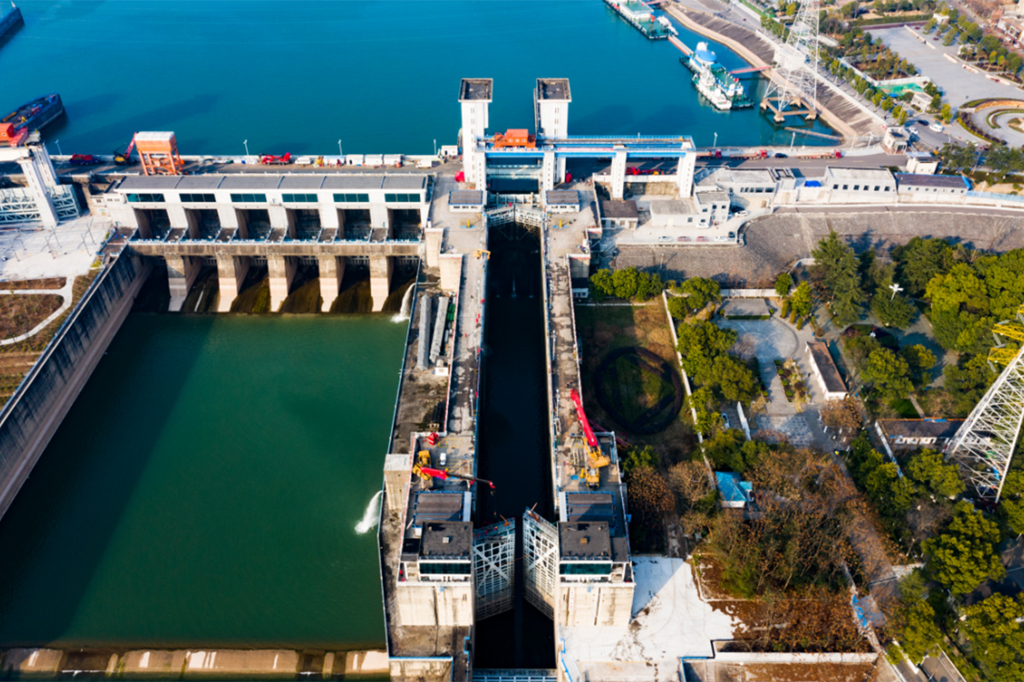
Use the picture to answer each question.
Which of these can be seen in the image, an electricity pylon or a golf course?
electricity pylon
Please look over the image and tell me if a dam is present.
Yes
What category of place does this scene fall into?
port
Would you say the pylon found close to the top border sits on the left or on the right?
right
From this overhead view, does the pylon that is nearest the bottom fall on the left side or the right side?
right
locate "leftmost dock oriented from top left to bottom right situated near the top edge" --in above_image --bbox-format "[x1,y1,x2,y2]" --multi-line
[598,0,671,43]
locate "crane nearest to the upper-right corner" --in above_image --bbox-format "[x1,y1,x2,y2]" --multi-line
[492,124,535,151]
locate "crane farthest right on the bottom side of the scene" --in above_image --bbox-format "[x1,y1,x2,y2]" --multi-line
[572,387,609,482]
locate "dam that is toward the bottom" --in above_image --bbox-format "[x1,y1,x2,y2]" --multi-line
[0,645,390,673]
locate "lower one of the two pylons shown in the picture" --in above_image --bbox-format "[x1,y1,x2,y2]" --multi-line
[943,309,1024,505]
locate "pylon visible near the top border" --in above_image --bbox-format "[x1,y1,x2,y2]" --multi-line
[759,0,817,125]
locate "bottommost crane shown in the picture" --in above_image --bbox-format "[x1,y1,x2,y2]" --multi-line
[407,442,493,494]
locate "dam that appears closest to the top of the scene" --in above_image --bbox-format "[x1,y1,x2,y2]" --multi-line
[102,172,436,313]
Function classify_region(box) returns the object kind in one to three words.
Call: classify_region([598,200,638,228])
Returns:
house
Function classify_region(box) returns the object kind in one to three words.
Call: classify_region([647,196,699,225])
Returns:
shed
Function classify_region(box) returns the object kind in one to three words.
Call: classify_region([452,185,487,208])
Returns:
house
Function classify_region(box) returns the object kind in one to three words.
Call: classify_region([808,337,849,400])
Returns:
building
